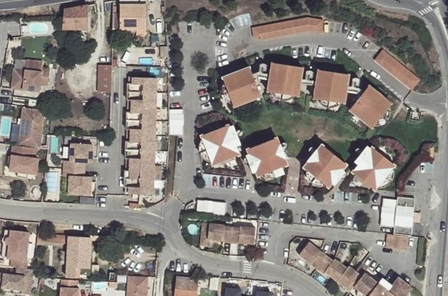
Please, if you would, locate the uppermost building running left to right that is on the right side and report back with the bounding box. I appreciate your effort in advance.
[252,17,323,40]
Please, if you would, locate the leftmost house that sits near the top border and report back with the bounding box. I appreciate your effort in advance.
[62,4,88,32]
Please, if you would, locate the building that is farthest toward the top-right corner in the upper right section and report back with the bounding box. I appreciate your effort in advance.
[374,49,420,90]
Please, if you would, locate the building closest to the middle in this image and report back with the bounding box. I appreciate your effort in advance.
[200,126,242,168]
